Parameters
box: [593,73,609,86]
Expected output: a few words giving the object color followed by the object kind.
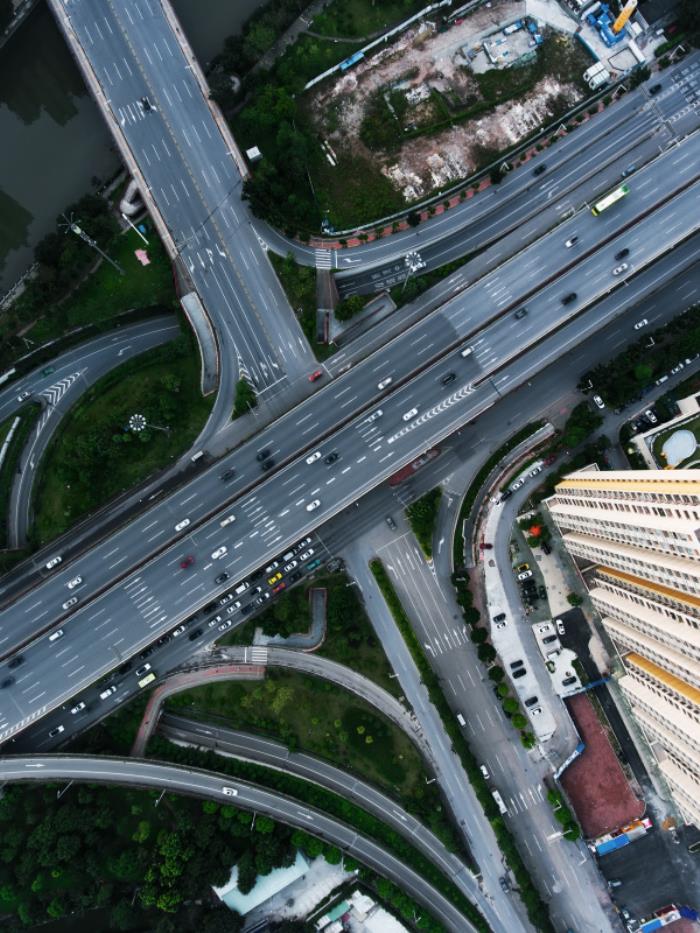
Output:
white vehicle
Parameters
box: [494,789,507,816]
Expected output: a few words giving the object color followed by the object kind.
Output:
white vehicle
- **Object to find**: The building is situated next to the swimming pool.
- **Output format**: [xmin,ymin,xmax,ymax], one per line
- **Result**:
[541,472,700,853]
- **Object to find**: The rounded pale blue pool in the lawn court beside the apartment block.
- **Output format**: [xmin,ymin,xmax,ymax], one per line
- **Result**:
[664,427,700,472]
